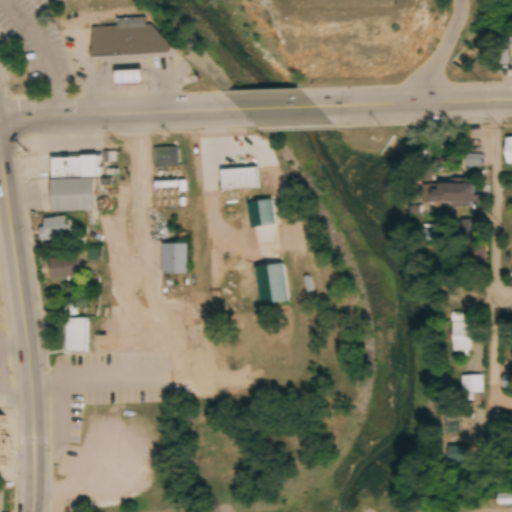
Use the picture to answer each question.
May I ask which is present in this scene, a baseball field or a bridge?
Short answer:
bridge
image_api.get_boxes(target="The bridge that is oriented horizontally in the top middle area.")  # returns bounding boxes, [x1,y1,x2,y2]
[222,87,333,128]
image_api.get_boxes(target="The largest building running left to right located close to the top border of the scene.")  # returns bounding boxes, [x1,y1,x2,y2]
[91,23,172,56]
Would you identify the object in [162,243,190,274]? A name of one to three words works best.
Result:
barn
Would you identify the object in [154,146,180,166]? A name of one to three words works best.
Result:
house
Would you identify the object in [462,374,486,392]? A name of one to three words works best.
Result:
building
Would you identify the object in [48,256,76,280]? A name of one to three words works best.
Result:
house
